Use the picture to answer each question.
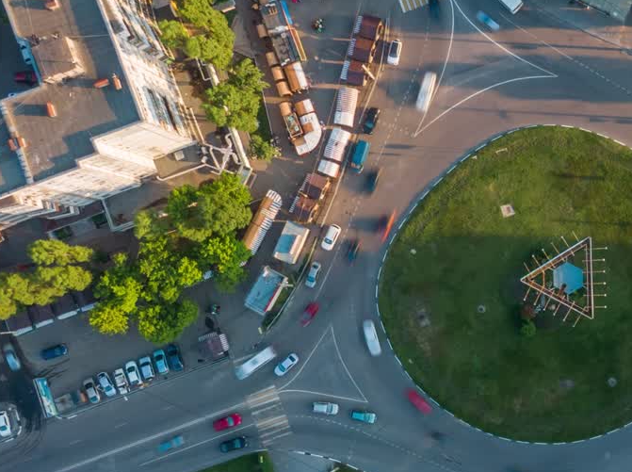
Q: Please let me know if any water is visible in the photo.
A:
No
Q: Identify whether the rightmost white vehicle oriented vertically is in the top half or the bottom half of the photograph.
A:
top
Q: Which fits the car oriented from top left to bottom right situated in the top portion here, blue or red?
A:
blue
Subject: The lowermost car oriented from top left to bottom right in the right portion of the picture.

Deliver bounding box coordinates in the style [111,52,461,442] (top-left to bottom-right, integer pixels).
[406,390,431,412]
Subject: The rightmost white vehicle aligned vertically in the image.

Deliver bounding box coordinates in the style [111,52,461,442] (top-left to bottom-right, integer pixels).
[415,72,435,111]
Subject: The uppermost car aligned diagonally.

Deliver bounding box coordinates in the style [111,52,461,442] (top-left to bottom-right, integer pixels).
[477,11,498,31]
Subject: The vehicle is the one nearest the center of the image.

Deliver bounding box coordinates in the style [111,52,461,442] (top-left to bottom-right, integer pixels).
[322,222,340,250]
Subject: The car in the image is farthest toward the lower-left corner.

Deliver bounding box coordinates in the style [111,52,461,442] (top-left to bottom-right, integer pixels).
[0,411,13,437]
